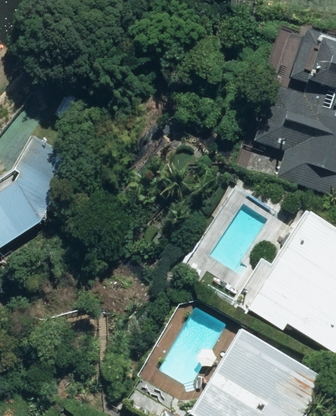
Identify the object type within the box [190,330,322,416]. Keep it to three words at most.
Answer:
house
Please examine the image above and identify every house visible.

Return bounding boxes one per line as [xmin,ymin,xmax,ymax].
[255,24,336,195]
[0,135,55,250]
[238,210,336,352]
[190,330,322,416]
